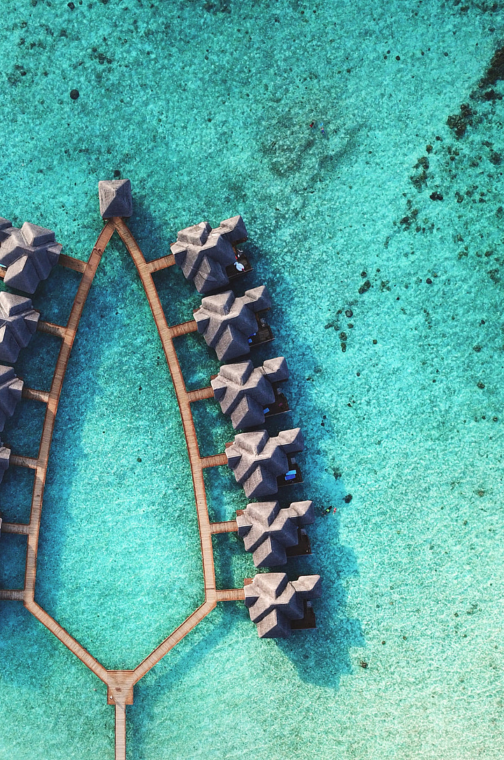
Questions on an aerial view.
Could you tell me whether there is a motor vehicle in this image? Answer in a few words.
No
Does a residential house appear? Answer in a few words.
Yes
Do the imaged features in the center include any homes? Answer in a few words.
Yes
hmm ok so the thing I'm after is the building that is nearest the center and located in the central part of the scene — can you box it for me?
[202,356,289,425]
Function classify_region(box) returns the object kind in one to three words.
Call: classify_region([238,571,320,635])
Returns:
house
